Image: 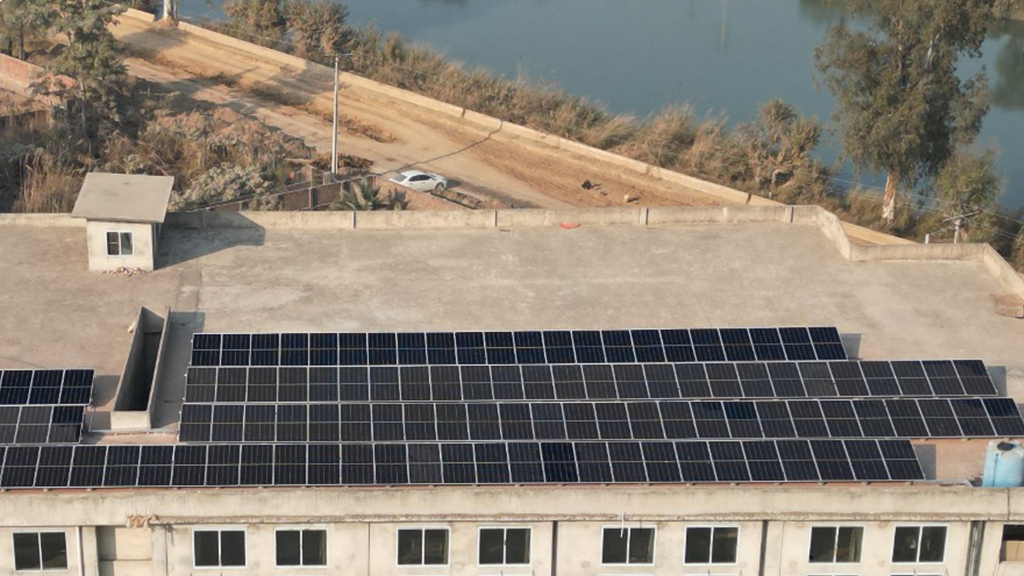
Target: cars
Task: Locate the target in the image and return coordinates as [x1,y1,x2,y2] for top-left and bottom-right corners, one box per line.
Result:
[391,171,449,190]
